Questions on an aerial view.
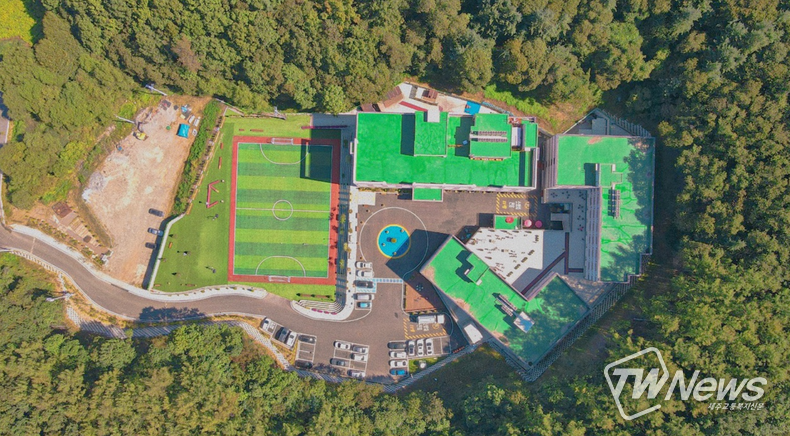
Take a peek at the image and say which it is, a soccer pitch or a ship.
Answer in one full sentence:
Of the two, only a soccer pitch appears.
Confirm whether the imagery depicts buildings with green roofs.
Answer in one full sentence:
Yes, the image includes a building with a green roof.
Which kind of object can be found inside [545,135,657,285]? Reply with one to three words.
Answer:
building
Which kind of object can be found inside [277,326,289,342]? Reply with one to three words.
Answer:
vehicle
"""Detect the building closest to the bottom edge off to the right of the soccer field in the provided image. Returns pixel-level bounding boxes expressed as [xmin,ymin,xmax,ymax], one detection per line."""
[417,235,592,367]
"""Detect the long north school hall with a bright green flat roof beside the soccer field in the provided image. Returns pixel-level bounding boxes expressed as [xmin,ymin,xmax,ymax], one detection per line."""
[350,110,538,195]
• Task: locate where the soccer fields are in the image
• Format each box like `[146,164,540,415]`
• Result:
[228,136,340,286]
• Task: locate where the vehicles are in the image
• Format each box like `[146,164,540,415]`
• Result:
[285,331,297,347]
[262,316,274,333]
[352,353,368,361]
[357,262,373,269]
[145,242,158,249]
[353,346,369,354]
[349,369,365,377]
[390,342,407,350]
[147,227,164,236]
[277,326,289,342]
[336,341,352,350]
[299,335,316,343]
[391,368,407,377]
[417,340,424,356]
[358,270,373,278]
[408,340,415,356]
[426,339,433,355]
[149,208,164,217]
[417,314,444,323]
[391,360,407,367]
[359,302,371,308]
[333,358,349,367]
[391,351,407,358]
